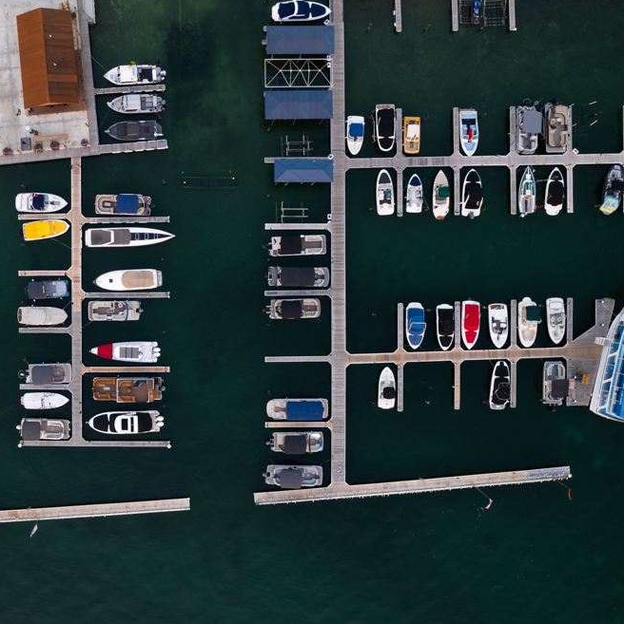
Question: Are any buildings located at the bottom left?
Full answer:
No, at the bottom left there is no building.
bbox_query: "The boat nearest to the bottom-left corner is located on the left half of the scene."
[15,418,70,440]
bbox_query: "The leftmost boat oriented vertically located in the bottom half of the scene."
[375,367,395,409]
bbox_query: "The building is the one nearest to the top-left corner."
[17,5,86,116]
